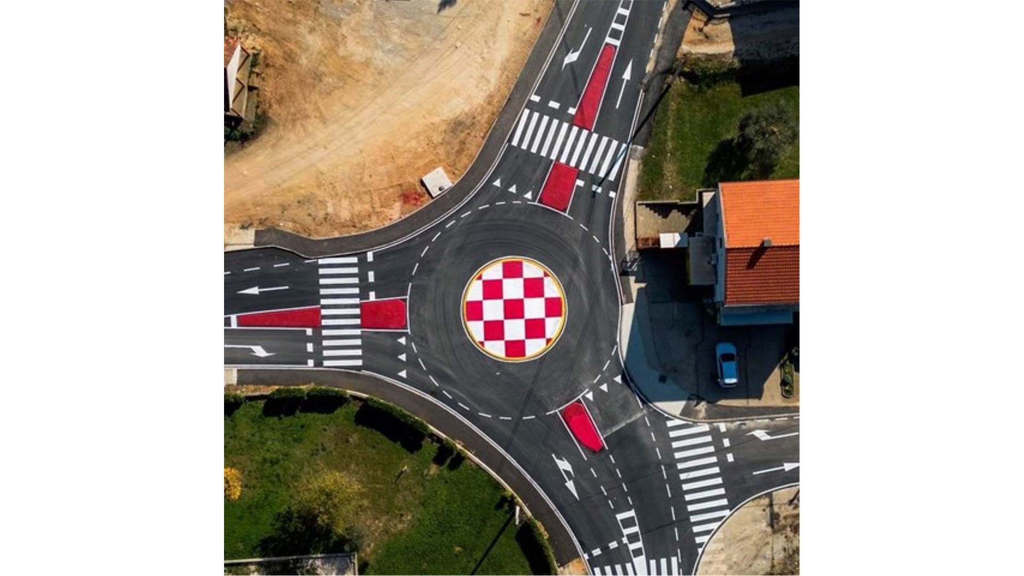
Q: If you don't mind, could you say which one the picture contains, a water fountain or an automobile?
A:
automobile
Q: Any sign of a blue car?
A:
Yes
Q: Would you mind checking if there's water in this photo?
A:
No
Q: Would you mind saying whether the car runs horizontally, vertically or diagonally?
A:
vertically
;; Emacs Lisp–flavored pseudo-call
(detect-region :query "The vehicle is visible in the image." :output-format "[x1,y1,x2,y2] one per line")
[716,345,740,390]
